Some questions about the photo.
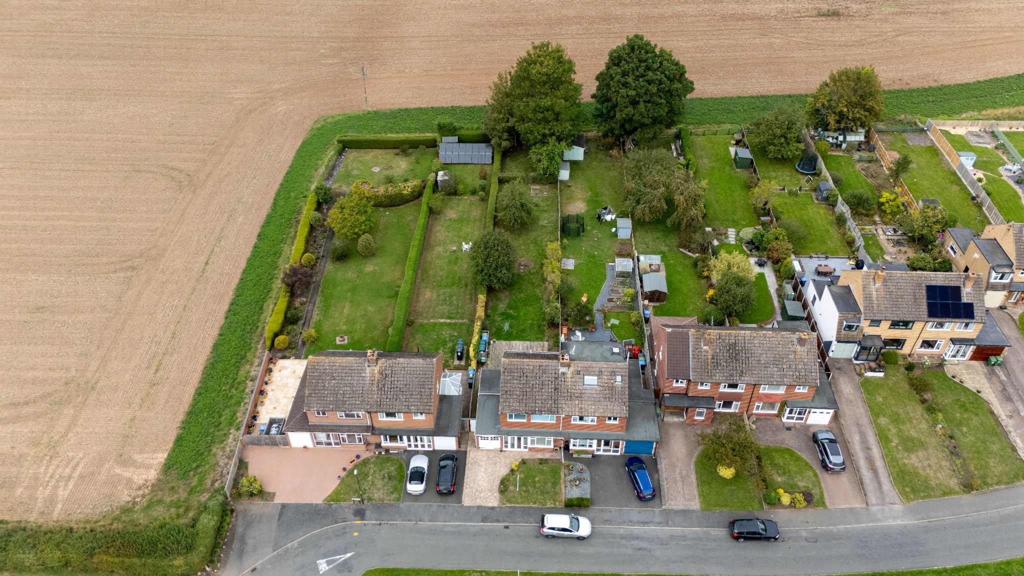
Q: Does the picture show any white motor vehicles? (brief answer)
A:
Yes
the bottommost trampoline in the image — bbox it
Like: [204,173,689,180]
[562,215,584,239]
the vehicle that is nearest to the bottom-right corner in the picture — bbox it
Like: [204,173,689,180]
[814,431,848,472]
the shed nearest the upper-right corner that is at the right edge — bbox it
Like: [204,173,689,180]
[956,149,980,168]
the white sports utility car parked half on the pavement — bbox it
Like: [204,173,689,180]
[541,515,592,542]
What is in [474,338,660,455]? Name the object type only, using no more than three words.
house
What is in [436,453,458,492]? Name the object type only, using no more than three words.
car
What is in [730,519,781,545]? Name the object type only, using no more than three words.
car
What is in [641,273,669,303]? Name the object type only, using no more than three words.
shed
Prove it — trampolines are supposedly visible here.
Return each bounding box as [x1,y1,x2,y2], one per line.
[795,150,824,176]
[562,215,584,239]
